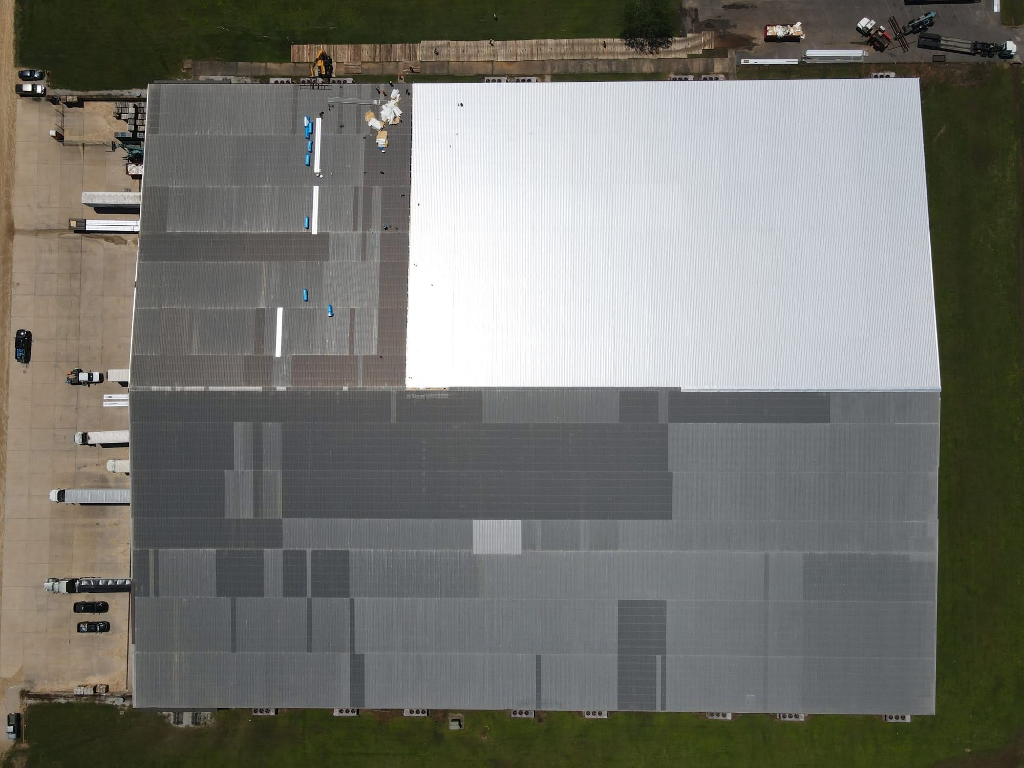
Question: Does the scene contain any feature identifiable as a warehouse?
Yes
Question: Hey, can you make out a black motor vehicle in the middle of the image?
No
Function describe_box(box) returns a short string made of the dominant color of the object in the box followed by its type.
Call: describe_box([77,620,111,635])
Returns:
black vehicle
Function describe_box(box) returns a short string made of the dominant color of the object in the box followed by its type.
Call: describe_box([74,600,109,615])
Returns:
black vehicle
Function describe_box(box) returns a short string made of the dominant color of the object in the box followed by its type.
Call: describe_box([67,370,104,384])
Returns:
white vehicle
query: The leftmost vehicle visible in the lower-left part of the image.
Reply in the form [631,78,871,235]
[4,710,21,740]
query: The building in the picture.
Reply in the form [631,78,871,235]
[126,76,942,716]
